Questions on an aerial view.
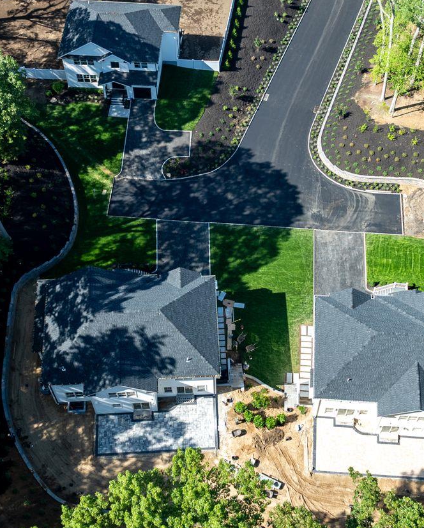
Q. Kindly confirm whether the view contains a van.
No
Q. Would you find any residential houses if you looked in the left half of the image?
Yes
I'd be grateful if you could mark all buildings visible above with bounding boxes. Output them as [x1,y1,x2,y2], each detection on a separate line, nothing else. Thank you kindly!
[34,263,224,427]
[311,284,424,451]
[55,0,181,107]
